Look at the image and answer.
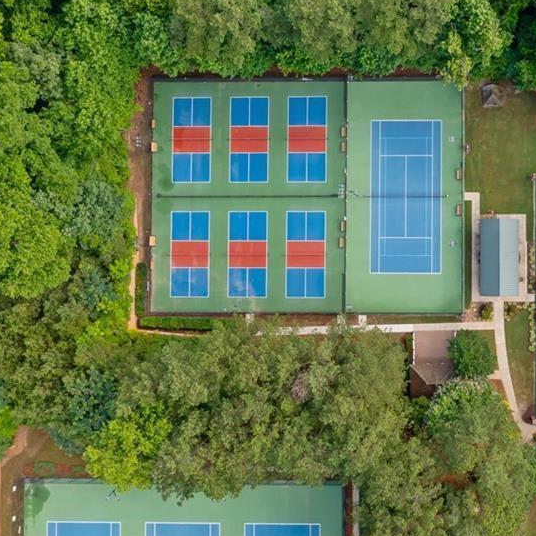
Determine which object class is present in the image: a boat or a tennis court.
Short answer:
tennis court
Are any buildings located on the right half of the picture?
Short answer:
Yes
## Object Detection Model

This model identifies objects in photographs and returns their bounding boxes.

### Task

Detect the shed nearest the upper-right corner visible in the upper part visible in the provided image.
[481,85,503,108]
